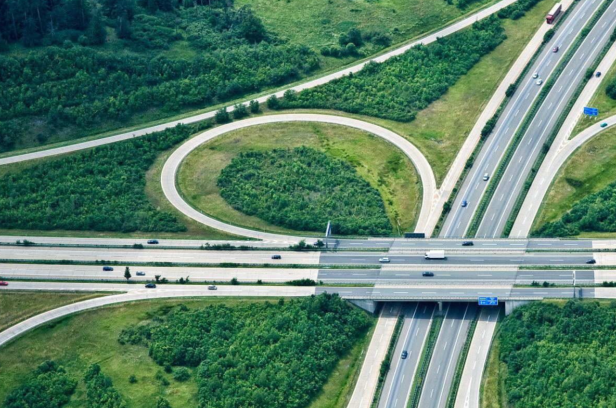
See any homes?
No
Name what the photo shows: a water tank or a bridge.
bridge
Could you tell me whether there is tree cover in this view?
Yes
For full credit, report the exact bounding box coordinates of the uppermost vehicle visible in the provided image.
[546,4,561,24]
